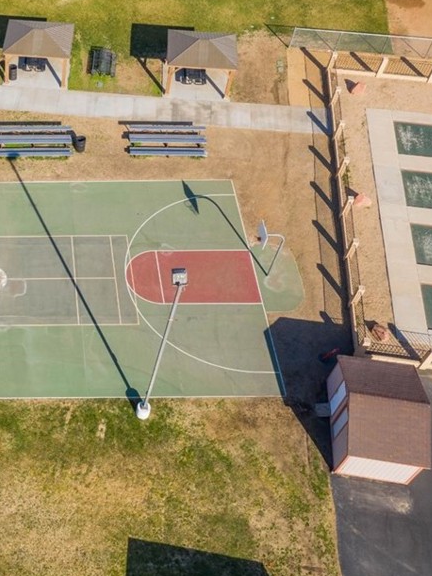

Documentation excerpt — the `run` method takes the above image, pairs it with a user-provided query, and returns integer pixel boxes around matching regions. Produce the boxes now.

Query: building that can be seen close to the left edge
[1,19,72,91]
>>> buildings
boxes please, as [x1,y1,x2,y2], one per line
[1,19,72,91]
[162,27,239,101]
[307,351,432,485]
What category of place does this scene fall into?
sports ground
